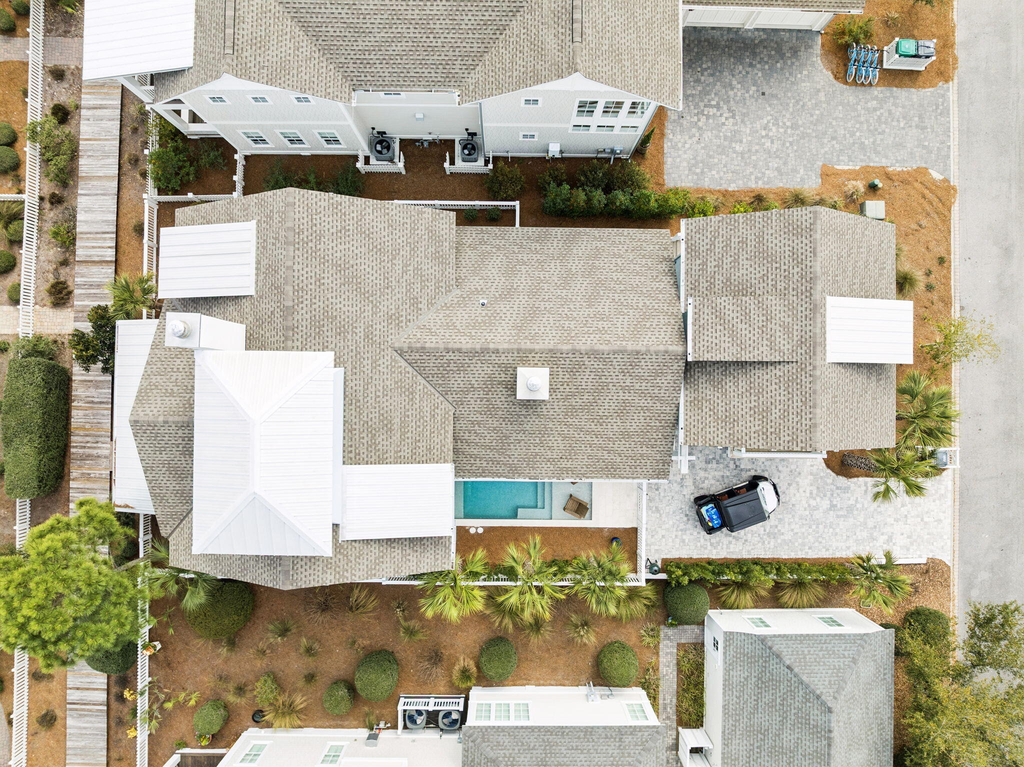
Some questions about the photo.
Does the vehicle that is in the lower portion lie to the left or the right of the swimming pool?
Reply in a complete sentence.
Compared with the swimming pool, the vehicle that is in the lower portion is located further to the right.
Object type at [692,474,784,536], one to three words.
vehicle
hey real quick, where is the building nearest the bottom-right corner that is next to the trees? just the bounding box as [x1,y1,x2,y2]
[674,599,897,767]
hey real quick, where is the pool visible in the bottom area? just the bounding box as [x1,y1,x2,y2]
[457,485,592,520]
